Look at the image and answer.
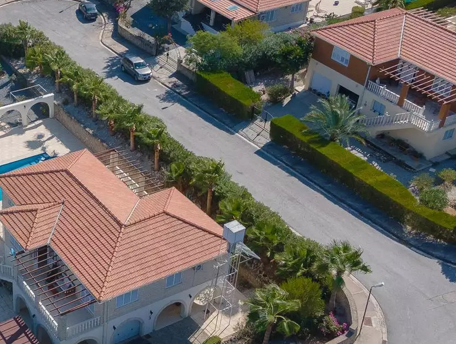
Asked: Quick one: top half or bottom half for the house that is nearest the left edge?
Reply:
bottom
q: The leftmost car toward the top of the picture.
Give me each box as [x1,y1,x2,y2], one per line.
[78,0,99,18]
